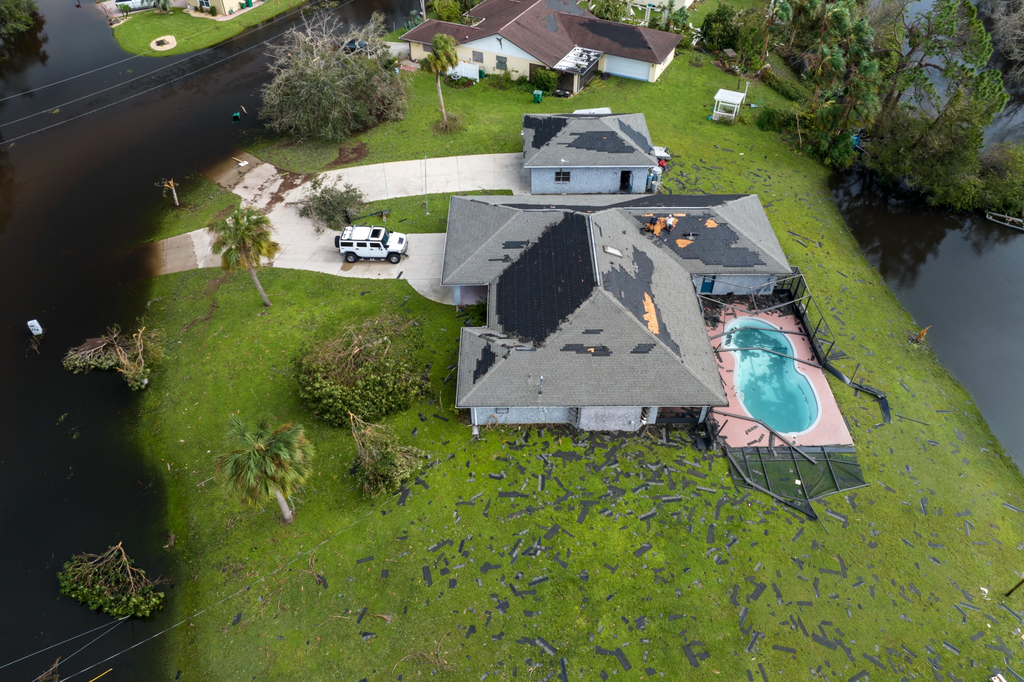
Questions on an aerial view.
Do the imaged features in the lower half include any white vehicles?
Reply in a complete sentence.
No, I see no white vehicle in the lower half.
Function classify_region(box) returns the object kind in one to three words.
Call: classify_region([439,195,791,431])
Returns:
house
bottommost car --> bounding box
[333,223,410,264]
